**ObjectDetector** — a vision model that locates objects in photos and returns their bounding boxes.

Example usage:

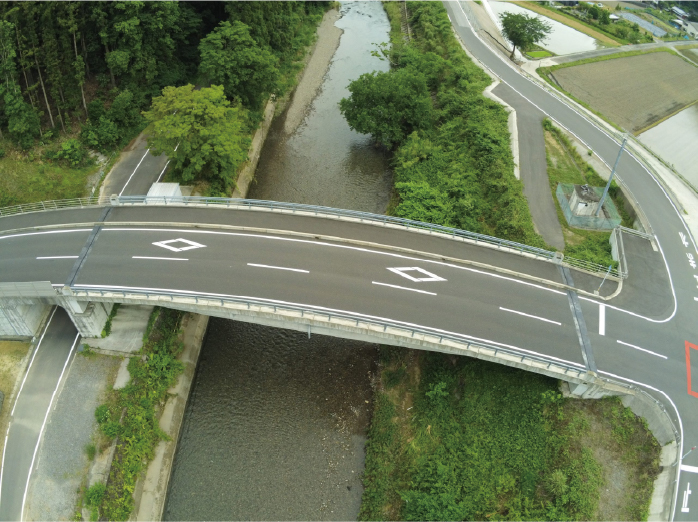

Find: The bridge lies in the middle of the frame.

[0,194,626,401]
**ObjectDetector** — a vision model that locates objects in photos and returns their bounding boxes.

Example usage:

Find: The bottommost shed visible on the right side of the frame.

[570,184,602,215]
